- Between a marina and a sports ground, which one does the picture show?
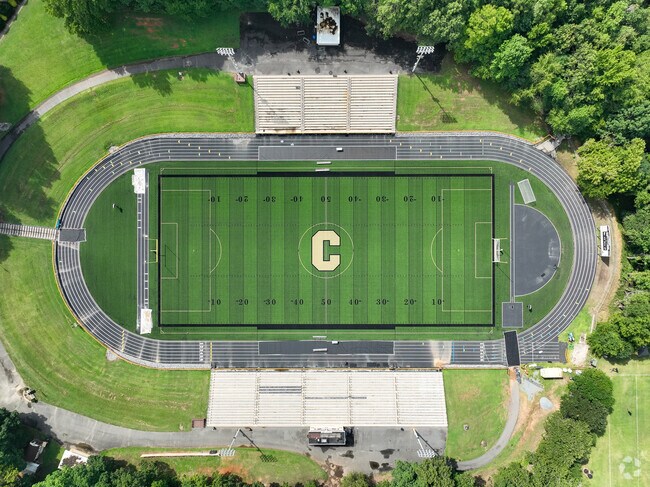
sports ground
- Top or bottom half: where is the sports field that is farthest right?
bottom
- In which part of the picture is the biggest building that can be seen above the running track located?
top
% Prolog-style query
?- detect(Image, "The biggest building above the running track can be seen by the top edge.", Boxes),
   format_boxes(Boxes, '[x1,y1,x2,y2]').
[317,5,340,48]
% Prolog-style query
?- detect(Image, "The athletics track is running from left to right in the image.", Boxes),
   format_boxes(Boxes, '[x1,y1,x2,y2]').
[55,132,597,368]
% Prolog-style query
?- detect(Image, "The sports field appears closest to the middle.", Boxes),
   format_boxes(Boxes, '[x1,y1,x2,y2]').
[79,160,574,340]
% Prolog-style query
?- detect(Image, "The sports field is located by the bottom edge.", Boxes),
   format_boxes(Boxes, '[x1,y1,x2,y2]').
[592,357,650,487]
